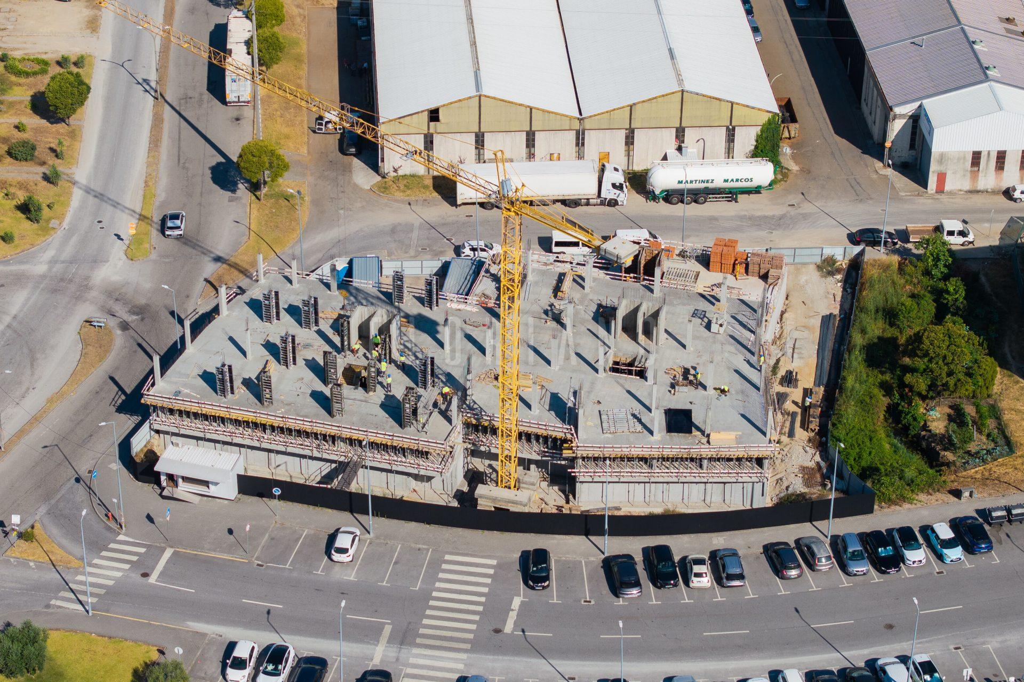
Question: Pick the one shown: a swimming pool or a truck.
truck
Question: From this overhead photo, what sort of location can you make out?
industrial area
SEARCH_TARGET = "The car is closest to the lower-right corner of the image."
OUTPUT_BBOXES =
[910,653,948,682]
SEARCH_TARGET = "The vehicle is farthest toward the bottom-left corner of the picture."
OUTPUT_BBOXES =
[225,642,256,682]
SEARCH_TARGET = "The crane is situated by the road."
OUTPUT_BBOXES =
[96,0,640,490]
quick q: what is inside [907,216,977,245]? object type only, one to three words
truck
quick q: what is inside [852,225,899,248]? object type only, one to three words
car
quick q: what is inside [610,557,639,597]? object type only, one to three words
car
